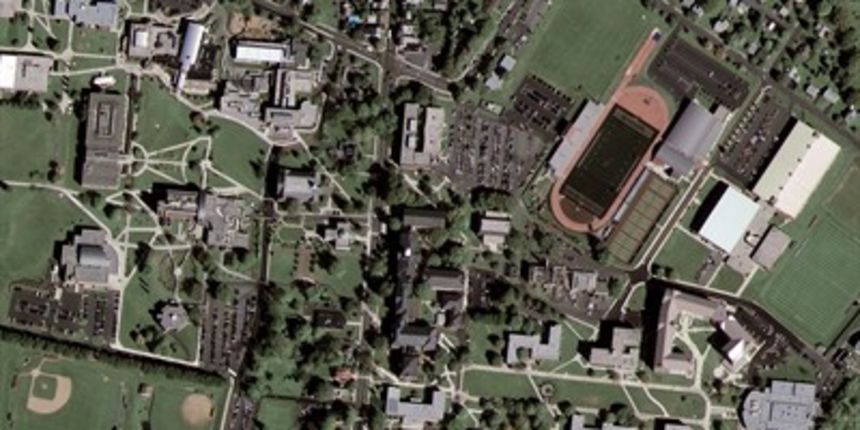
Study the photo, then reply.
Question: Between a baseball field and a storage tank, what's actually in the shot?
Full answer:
There is a baseball field in the scene.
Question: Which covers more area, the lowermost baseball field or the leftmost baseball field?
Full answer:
The leftmost baseball field takes up more space than the lowermost baseball field.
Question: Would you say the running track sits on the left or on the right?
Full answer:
You can find the running track on the right side of the picture.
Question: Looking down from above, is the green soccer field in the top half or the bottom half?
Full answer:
You can find the green soccer field in the bottom half.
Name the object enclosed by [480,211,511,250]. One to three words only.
house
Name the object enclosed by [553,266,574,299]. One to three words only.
building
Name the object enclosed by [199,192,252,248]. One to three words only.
building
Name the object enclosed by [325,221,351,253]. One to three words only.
house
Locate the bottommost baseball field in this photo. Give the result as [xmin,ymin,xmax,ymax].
[182,394,212,423]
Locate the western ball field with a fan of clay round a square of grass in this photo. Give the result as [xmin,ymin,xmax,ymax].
[20,358,71,413]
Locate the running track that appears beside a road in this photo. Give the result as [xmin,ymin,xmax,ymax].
[547,29,669,233]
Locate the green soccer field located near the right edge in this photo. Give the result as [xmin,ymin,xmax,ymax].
[758,218,860,350]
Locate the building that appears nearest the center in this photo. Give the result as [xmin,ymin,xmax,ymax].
[403,207,447,229]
